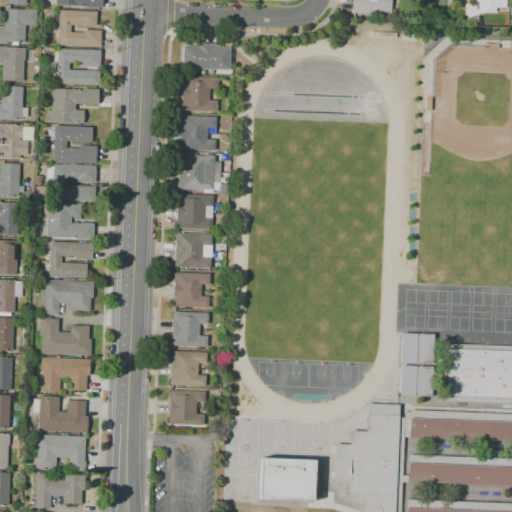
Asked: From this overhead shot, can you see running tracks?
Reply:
Yes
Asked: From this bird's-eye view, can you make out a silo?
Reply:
No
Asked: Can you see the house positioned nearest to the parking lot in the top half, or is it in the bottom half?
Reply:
bottom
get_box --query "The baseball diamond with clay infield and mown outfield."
[418,45,512,286]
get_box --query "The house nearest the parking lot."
[169,389,208,428]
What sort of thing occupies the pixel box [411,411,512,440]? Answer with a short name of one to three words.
building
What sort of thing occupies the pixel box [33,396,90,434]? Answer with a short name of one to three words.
house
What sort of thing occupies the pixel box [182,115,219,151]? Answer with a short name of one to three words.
house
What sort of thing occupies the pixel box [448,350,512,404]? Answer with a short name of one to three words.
building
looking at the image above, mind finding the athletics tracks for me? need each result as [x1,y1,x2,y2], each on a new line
[234,42,406,417]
